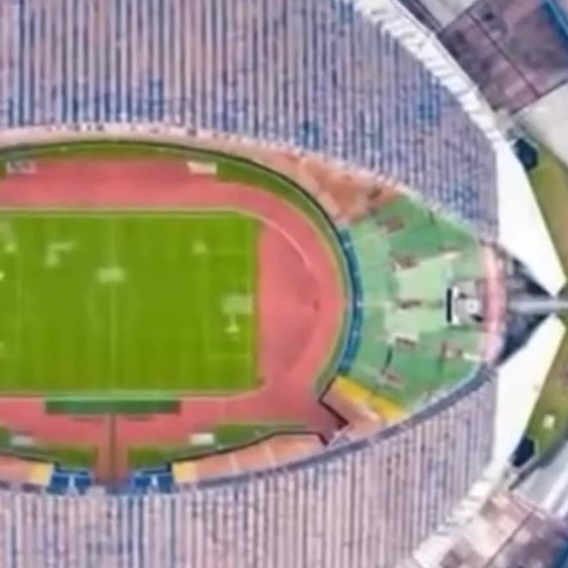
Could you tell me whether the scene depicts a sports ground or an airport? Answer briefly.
sports ground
